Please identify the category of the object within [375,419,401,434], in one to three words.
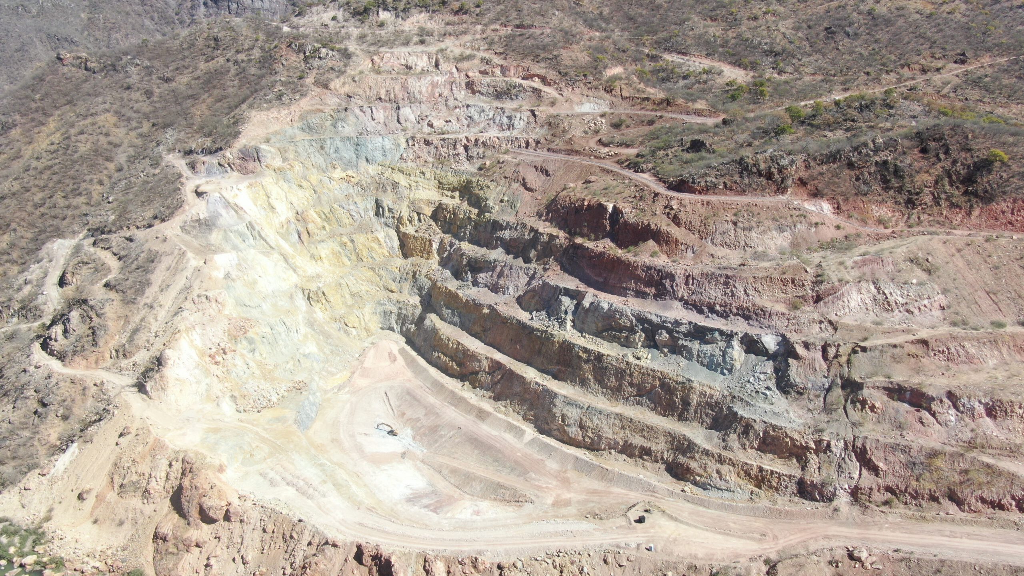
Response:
work vehicle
